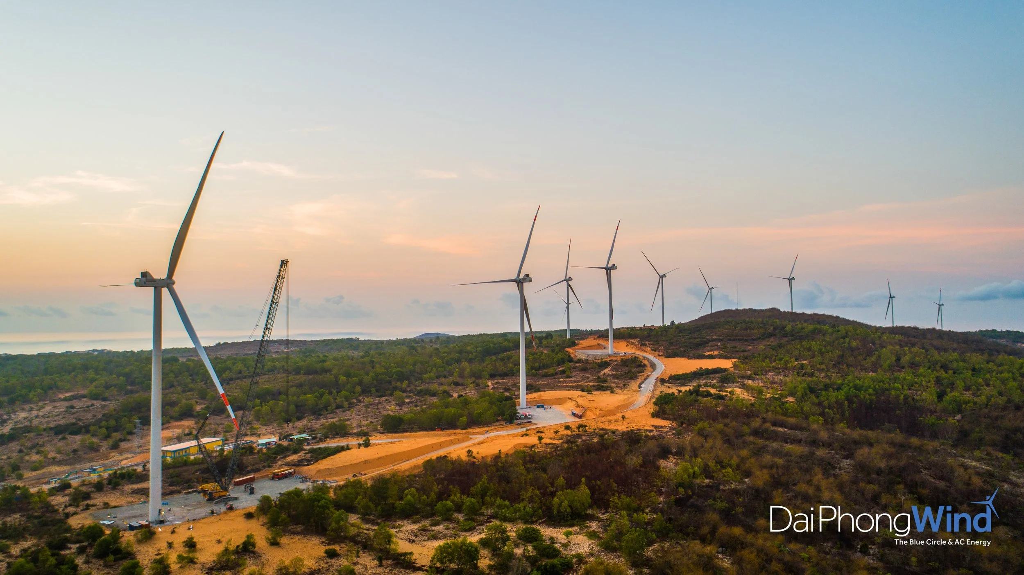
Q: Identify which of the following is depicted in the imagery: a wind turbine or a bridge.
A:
wind turbine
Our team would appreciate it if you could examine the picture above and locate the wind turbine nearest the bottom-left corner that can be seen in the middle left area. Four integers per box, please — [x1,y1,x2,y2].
[118,132,241,519]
